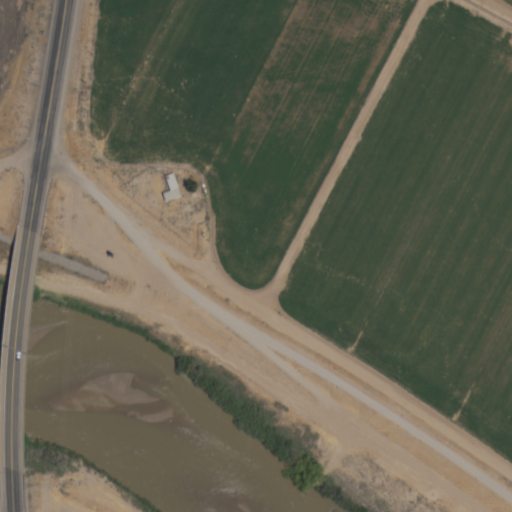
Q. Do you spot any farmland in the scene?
Yes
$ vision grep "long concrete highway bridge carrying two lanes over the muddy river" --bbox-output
[0,227,44,470]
